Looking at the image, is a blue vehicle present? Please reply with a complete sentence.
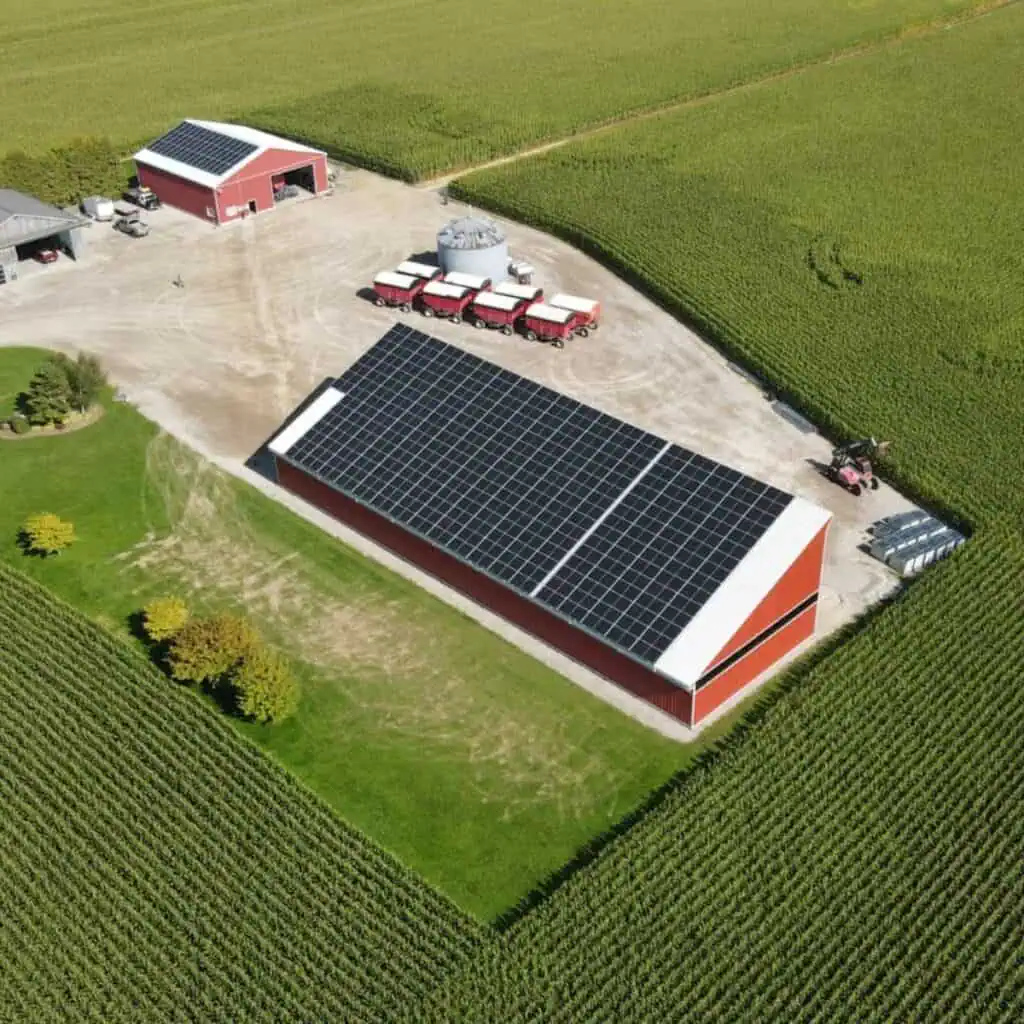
No, there's no blue vehicle here.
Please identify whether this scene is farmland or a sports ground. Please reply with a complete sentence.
What you see here is farmland.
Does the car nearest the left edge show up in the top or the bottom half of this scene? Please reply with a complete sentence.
The car nearest the left edge is in the top half of the image.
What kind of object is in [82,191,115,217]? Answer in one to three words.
trailer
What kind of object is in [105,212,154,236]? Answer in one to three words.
truck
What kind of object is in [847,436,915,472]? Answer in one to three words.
work vehicle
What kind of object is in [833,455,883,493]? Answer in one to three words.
work vehicle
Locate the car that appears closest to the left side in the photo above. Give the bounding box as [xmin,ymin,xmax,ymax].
[19,245,59,267]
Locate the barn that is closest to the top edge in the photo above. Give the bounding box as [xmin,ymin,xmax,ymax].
[131,117,330,225]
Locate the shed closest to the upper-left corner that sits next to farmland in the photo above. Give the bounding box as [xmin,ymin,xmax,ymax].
[0,183,93,282]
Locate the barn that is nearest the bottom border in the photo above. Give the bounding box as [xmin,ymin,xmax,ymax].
[268,322,834,730]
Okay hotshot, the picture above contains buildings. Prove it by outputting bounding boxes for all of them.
[268,322,834,730]
[131,117,330,225]
[0,183,93,282]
